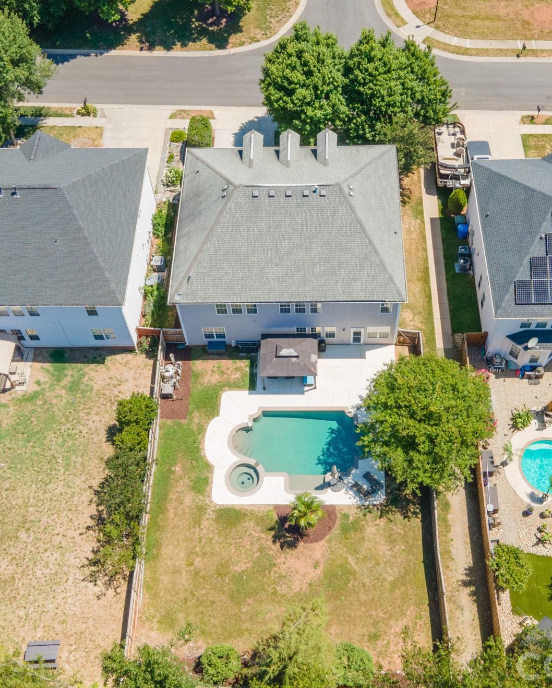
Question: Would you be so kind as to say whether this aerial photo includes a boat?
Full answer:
Yes, this view includes a boat.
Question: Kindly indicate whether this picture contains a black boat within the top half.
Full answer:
No, there is no black boat within the top half.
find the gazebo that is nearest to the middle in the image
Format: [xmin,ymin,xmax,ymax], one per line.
[261,338,317,392]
